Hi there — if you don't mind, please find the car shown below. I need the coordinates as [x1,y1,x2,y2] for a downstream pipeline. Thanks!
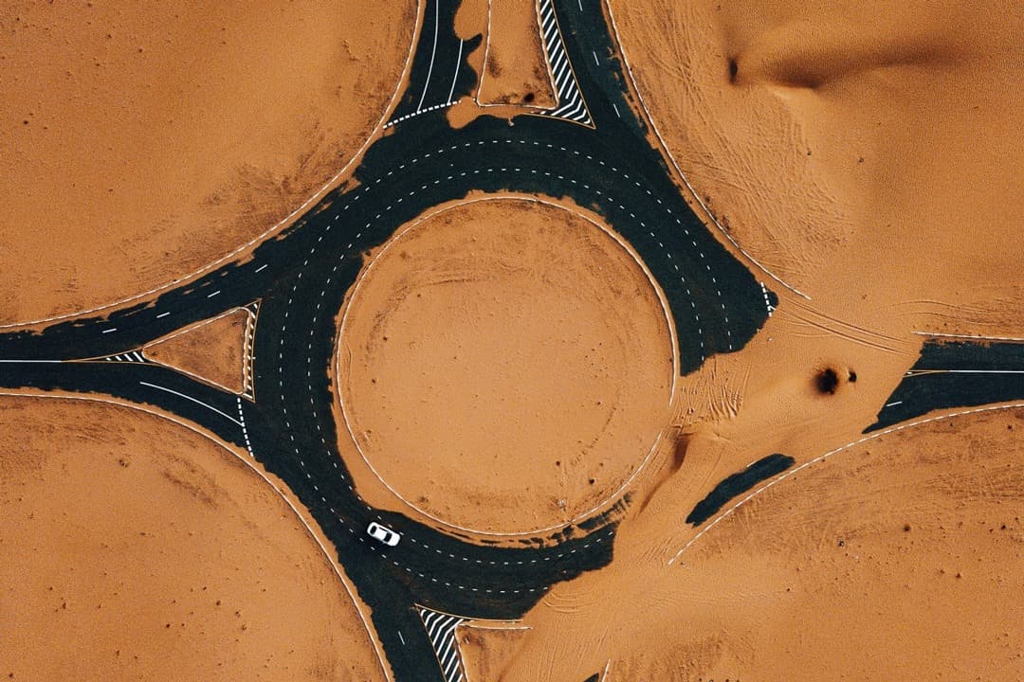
[367,522,400,546]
